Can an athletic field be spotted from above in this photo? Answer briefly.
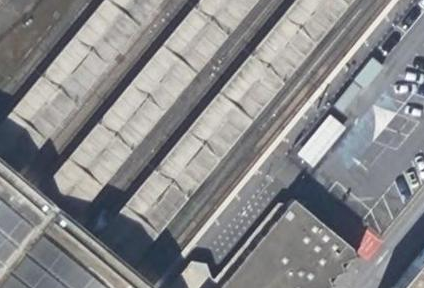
No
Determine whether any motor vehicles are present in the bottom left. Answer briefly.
No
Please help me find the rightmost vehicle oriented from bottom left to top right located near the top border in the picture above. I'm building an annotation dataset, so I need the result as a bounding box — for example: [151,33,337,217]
[402,5,422,28]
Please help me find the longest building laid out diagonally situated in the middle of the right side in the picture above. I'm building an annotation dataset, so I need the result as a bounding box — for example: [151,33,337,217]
[298,116,346,168]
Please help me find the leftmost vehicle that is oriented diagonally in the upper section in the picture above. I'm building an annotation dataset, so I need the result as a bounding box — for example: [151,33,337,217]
[382,32,402,52]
